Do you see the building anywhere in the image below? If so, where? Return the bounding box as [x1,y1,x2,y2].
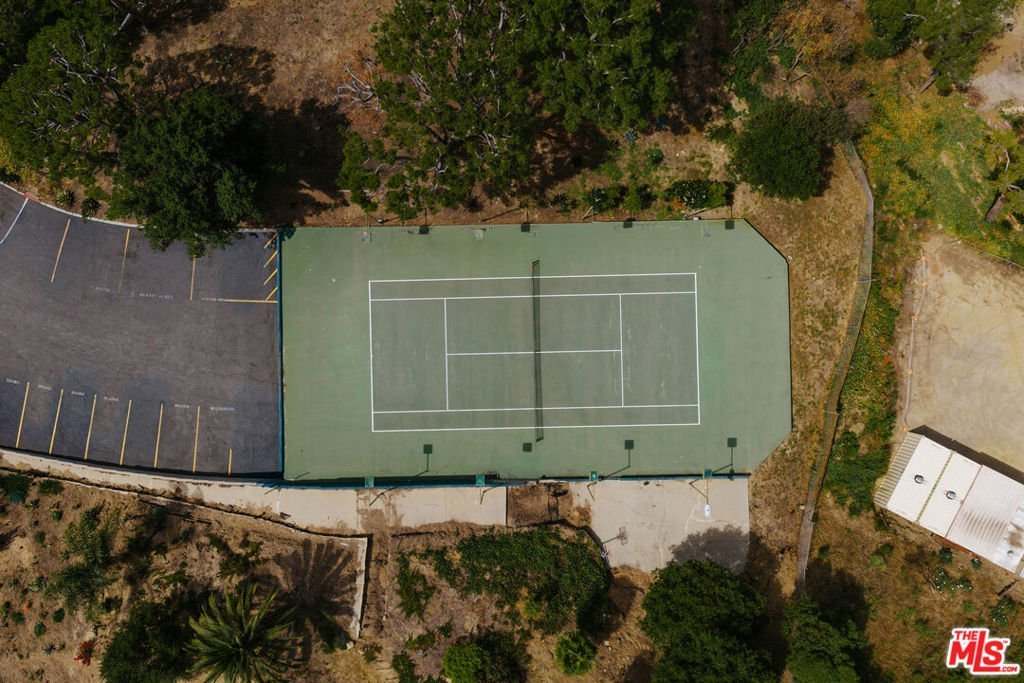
[873,433,1024,577]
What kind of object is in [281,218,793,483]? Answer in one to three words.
tennis court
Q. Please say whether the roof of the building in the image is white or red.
white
